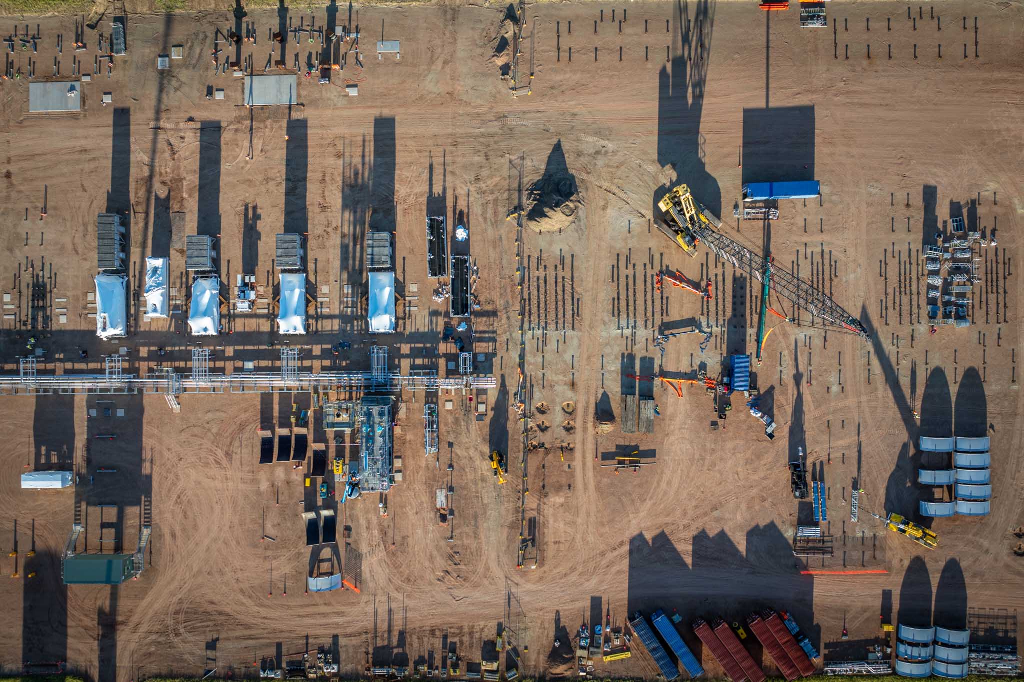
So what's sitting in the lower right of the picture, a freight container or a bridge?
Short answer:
freight container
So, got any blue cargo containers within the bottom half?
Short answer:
Yes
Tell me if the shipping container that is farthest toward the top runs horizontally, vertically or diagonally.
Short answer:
horizontally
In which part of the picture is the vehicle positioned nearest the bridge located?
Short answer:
left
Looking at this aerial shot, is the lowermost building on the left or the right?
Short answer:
left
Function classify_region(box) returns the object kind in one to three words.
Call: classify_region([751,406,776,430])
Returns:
truck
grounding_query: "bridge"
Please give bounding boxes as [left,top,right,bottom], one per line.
[146,362,183,416]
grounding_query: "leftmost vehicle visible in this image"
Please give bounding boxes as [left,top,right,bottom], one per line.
[234,273,254,315]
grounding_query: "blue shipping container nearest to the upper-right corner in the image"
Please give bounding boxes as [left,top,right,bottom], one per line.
[742,182,823,208]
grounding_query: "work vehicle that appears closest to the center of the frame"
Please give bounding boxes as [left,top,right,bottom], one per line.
[486,452,510,490]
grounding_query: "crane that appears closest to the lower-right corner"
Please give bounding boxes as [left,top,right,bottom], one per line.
[873,509,951,555]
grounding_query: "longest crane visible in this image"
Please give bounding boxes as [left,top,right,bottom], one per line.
[655,176,874,342]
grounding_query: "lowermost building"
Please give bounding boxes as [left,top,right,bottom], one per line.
[61,517,151,584]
